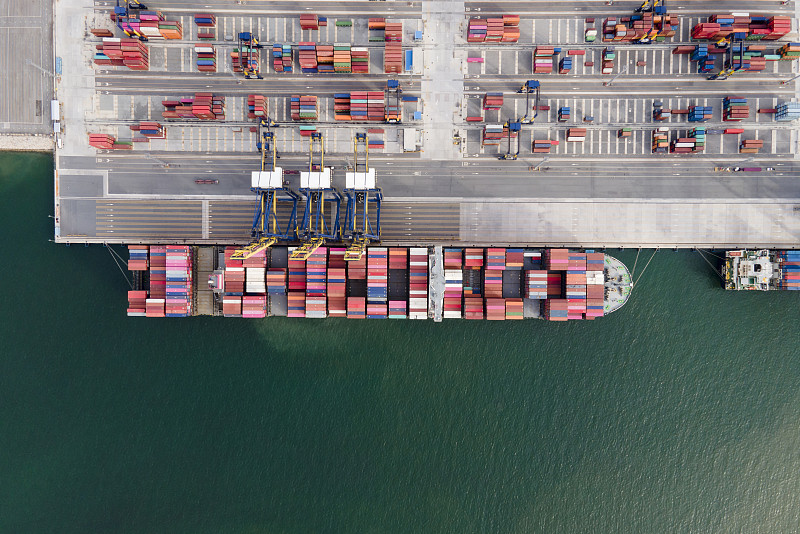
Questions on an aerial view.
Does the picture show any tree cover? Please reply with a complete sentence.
No, there is no tree cover in the image.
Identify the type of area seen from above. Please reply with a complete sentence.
The picture captures a port.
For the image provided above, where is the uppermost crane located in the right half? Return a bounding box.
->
[633,0,664,44]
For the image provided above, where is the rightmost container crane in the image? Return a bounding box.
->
[709,32,745,81]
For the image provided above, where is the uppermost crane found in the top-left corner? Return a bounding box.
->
[116,0,148,43]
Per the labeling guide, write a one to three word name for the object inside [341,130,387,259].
container crane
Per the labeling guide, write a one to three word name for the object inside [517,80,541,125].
container crane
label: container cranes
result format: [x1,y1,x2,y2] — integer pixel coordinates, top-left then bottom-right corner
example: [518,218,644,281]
[288,130,345,259]
[633,0,664,44]
[517,80,541,125]
[255,116,279,158]
[230,129,302,258]
[709,32,745,81]
[238,33,263,80]
[116,0,148,43]
[341,130,387,259]
[384,80,402,124]
[498,118,522,160]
